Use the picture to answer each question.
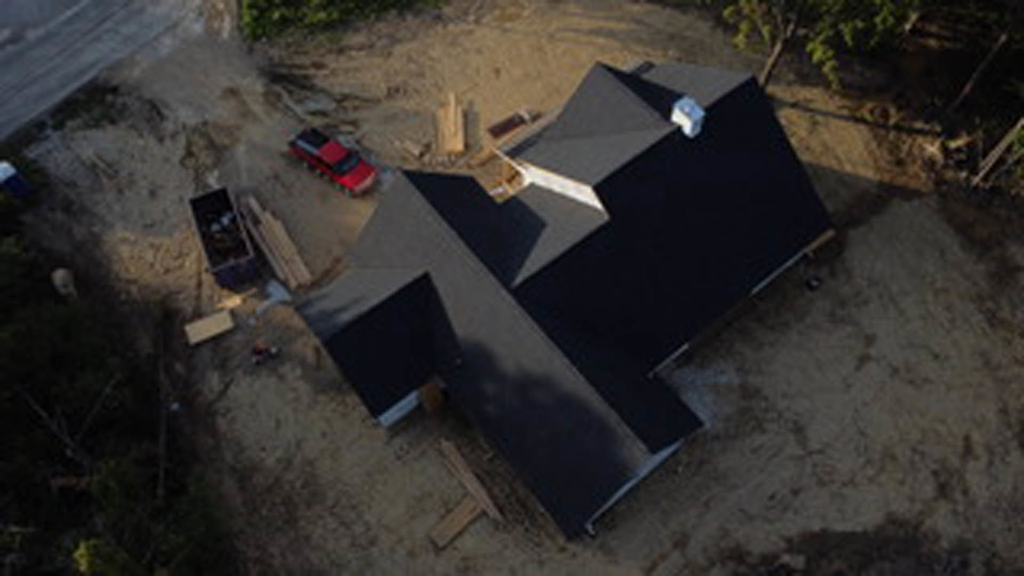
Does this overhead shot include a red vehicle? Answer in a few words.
Yes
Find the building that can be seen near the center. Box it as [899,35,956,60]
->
[295,62,840,540]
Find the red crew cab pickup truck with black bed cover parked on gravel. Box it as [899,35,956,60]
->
[286,124,380,199]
